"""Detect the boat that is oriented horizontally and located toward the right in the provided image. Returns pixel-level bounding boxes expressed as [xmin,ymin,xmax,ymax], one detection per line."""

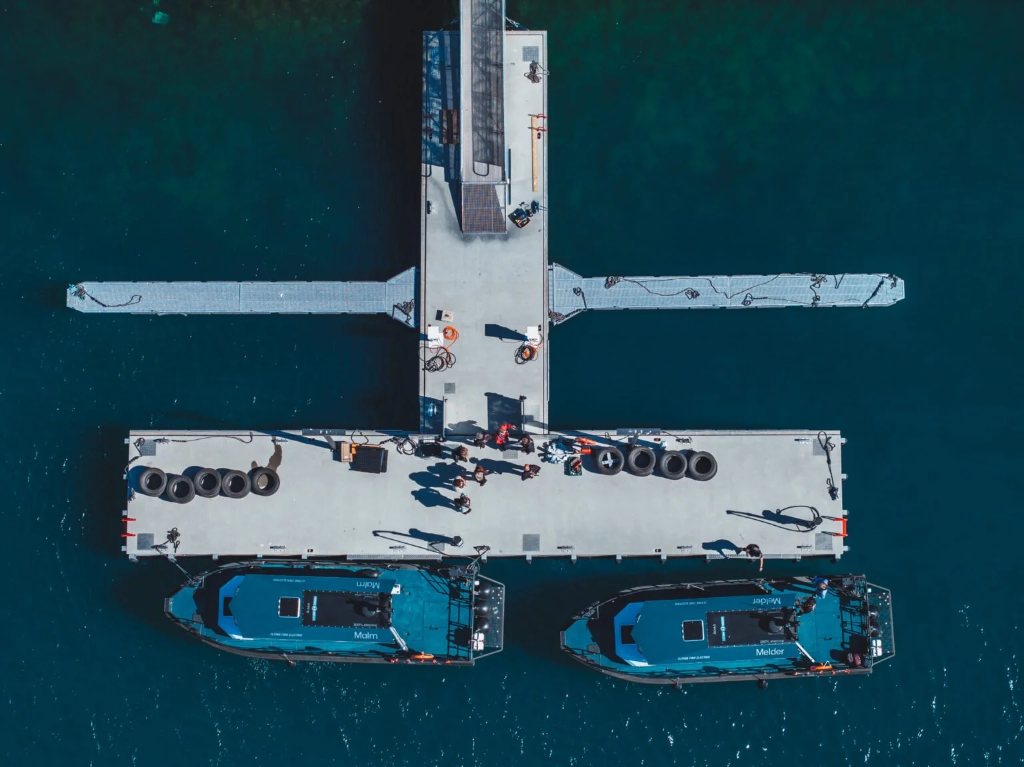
[559,573,895,691]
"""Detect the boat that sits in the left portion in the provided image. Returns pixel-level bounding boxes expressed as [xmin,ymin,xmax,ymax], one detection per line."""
[164,559,505,667]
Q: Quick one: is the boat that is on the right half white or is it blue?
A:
blue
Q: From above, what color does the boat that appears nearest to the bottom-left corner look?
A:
blue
